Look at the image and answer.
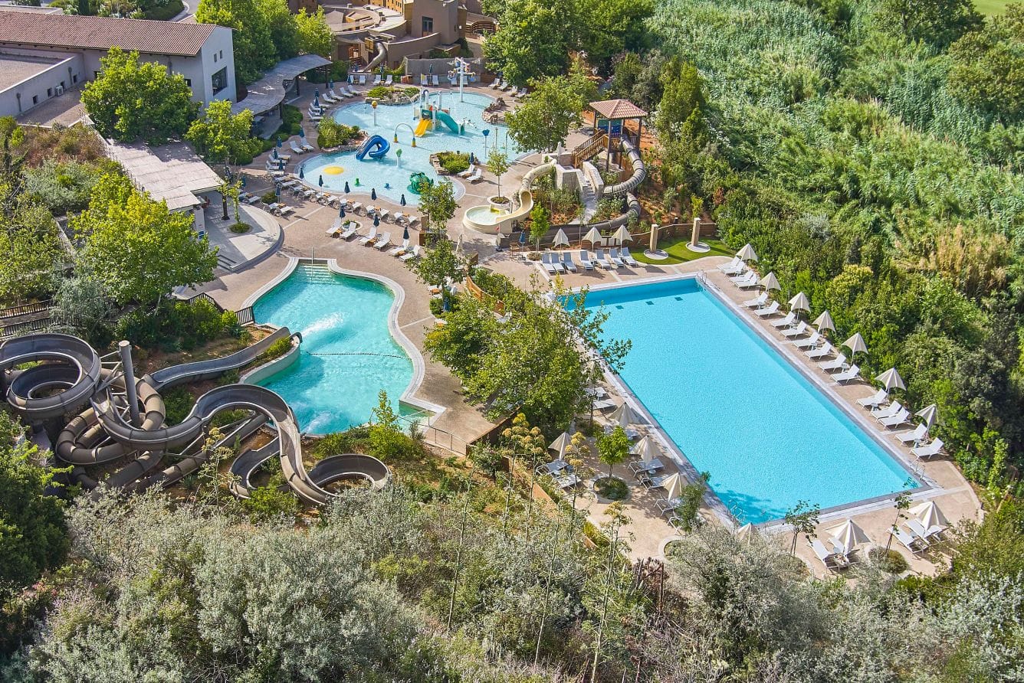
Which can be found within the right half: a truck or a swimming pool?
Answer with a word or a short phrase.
swimming pool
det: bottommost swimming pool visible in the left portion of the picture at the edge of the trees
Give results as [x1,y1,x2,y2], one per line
[240,257,451,453]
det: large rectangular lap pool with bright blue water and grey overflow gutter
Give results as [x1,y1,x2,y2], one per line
[550,270,959,552]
